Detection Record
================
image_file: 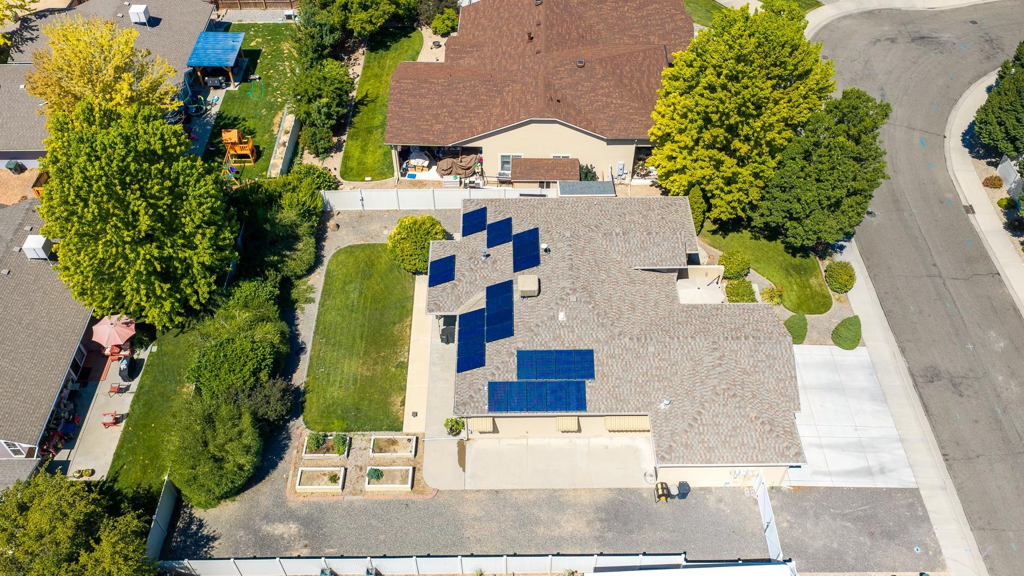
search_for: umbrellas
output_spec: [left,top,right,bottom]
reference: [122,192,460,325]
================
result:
[678,271,728,303]
[90,309,142,346]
